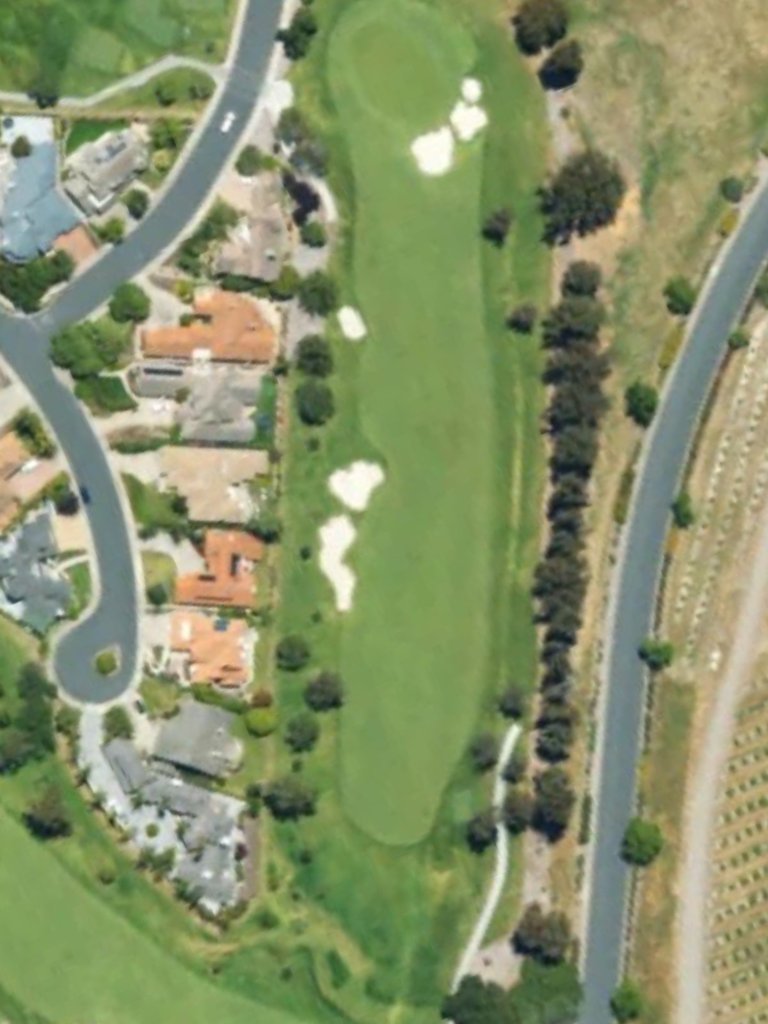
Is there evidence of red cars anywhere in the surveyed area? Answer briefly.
No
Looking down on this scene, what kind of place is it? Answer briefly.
golf course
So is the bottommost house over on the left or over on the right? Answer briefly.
left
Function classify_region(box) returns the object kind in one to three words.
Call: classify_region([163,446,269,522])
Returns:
house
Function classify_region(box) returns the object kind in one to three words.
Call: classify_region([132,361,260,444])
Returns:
house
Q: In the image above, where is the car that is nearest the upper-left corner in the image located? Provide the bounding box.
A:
[219,109,236,134]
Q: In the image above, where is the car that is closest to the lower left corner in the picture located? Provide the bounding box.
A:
[132,698,148,717]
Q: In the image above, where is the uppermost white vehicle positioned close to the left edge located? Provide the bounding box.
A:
[20,456,42,474]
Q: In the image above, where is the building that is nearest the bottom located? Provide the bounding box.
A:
[102,735,236,900]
